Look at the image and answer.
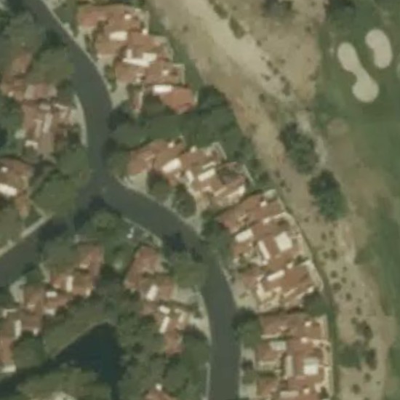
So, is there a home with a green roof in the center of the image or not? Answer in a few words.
No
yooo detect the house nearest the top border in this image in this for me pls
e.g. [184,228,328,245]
[74,0,150,40]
